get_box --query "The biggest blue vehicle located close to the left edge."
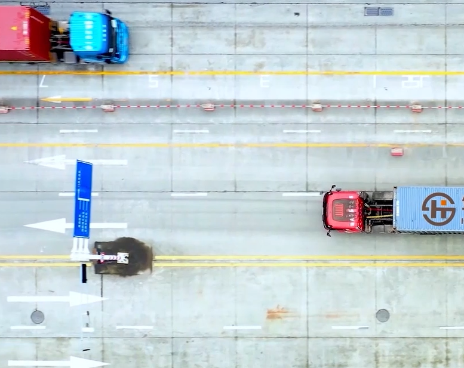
[8,4,131,65]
